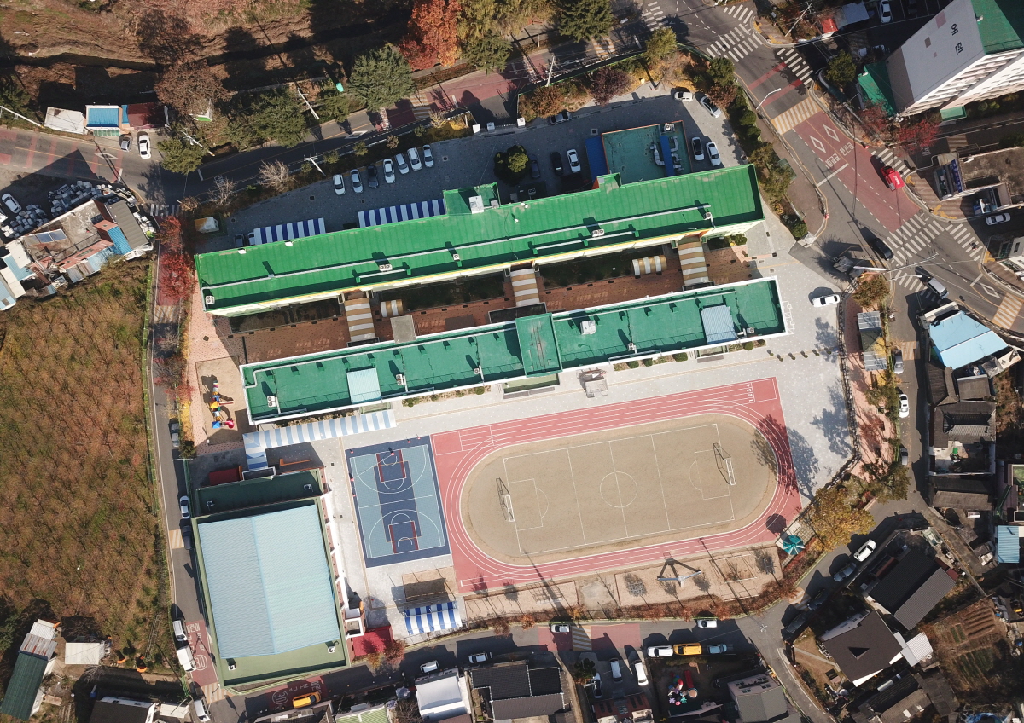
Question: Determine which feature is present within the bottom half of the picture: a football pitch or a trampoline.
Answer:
football pitch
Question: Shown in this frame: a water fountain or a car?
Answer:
car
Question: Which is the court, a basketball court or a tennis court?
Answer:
basketball court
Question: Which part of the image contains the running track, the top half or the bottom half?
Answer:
bottom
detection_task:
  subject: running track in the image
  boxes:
[432,377,802,593]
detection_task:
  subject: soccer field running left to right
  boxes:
[462,412,776,565]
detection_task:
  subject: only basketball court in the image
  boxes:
[345,436,451,568]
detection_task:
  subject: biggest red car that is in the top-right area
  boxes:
[882,168,900,187]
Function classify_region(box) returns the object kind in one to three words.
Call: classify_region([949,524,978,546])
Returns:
house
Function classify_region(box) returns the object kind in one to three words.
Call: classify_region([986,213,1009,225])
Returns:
vehicle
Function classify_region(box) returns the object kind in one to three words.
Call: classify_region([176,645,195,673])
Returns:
vehicle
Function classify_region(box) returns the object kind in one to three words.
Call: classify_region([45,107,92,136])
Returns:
shed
